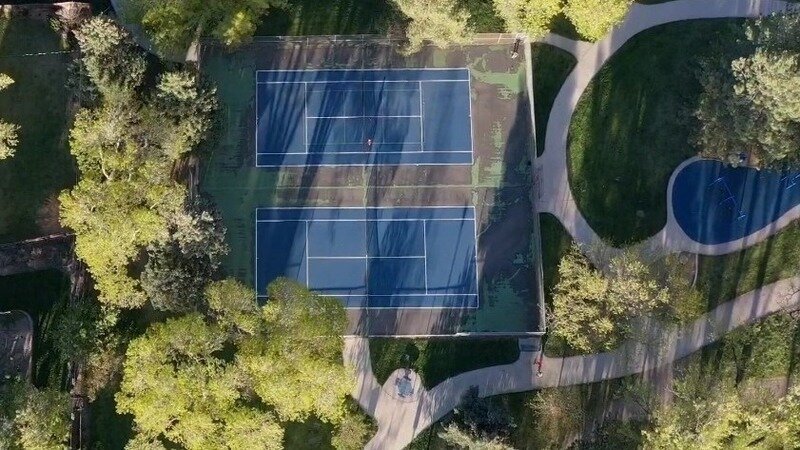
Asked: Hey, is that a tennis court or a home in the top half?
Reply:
tennis court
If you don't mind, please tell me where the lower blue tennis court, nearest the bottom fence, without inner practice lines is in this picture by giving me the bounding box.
[255,198,477,318]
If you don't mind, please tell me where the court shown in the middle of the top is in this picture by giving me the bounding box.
[256,58,472,174]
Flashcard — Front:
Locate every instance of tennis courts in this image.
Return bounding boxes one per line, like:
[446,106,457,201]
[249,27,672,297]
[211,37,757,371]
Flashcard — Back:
[256,58,472,174]
[255,198,477,318]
